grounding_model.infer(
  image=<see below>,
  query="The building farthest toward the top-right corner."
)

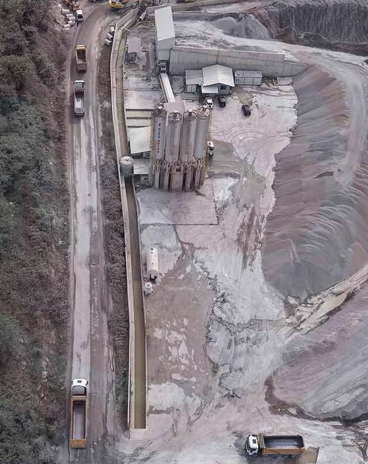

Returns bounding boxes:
[201,65,235,100]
